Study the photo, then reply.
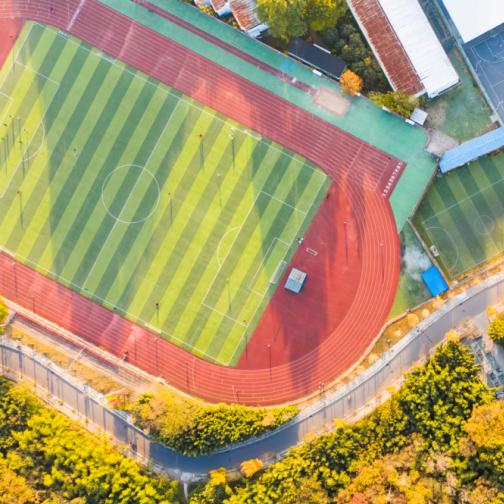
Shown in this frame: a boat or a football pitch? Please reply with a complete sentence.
This aerial view contains a football pitch.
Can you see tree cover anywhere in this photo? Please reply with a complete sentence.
Yes, tree cover can be seen from above here.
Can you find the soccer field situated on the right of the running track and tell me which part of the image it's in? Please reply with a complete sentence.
The soccer field situated on the right of the running track is in the right part of the image.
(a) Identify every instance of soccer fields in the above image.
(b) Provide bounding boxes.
[0,20,332,368]
[411,145,504,288]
